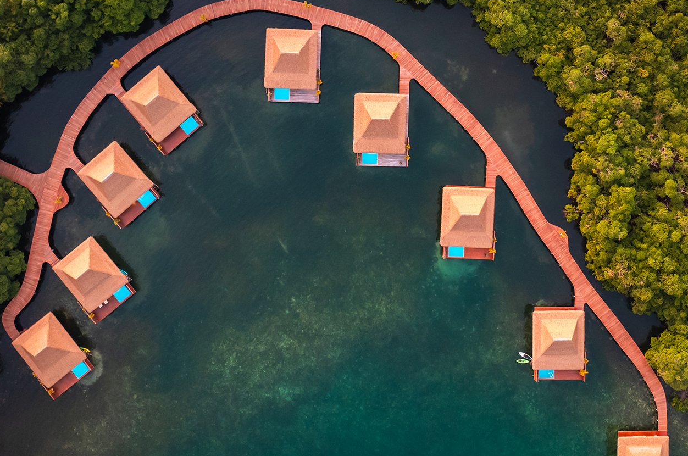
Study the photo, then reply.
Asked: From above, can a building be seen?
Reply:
Yes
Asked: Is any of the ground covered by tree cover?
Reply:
Yes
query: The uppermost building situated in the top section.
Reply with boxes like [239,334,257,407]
[263,29,322,104]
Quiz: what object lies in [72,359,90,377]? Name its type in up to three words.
swimming pool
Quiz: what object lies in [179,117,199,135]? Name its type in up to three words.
swimming pool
